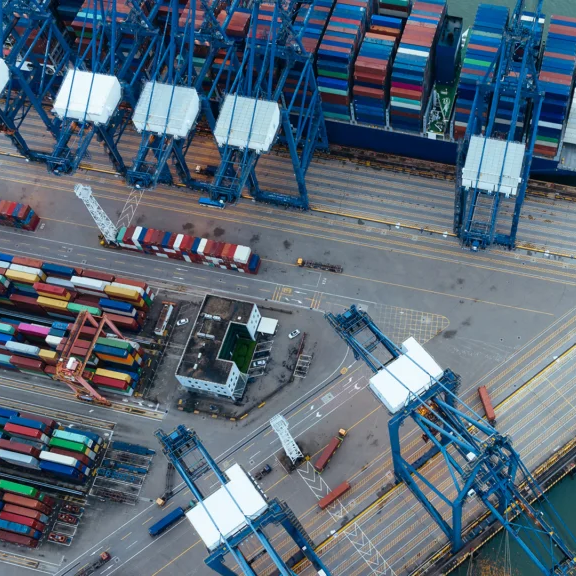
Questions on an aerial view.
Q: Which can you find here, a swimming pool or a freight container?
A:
freight container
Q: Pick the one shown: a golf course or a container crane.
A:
container crane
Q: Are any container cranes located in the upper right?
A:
Yes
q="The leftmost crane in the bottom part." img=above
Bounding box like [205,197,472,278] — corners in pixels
[50,308,133,401]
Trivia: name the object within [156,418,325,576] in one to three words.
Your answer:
container crane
